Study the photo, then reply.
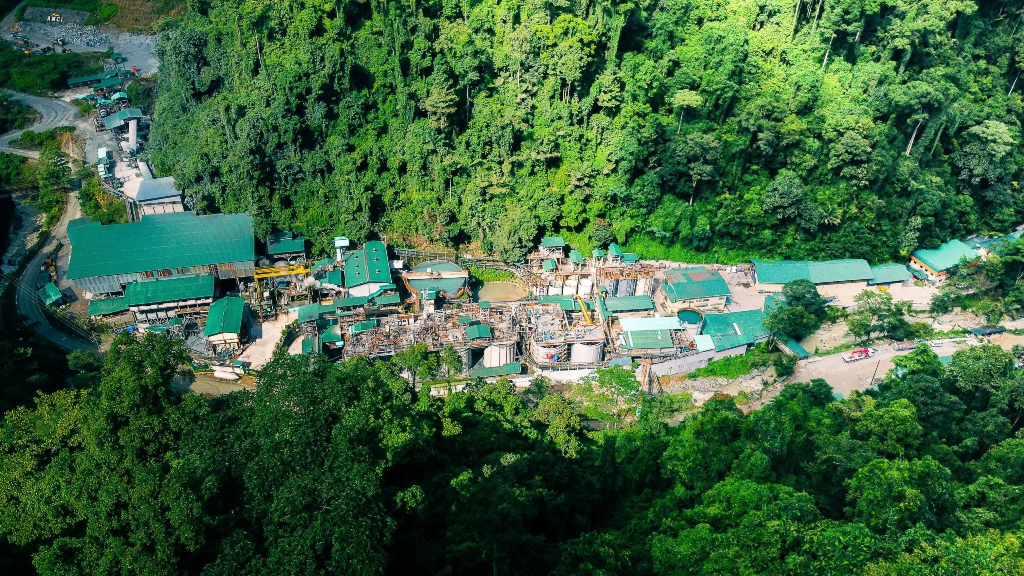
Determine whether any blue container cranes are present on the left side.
No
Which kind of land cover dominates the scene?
trees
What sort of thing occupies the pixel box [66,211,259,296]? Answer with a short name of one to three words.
building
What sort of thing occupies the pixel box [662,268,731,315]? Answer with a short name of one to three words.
building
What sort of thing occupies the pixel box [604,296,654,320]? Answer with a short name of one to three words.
shed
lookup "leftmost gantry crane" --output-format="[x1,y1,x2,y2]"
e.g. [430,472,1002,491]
[254,260,317,299]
